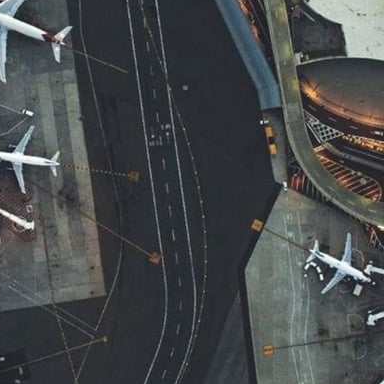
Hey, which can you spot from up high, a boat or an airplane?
airplane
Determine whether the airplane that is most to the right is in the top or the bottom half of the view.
bottom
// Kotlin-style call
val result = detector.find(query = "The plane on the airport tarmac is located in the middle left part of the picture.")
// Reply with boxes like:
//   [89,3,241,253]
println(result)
[0,124,62,194]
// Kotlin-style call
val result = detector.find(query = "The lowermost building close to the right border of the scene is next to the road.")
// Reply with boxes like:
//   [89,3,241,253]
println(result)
[296,58,384,123]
